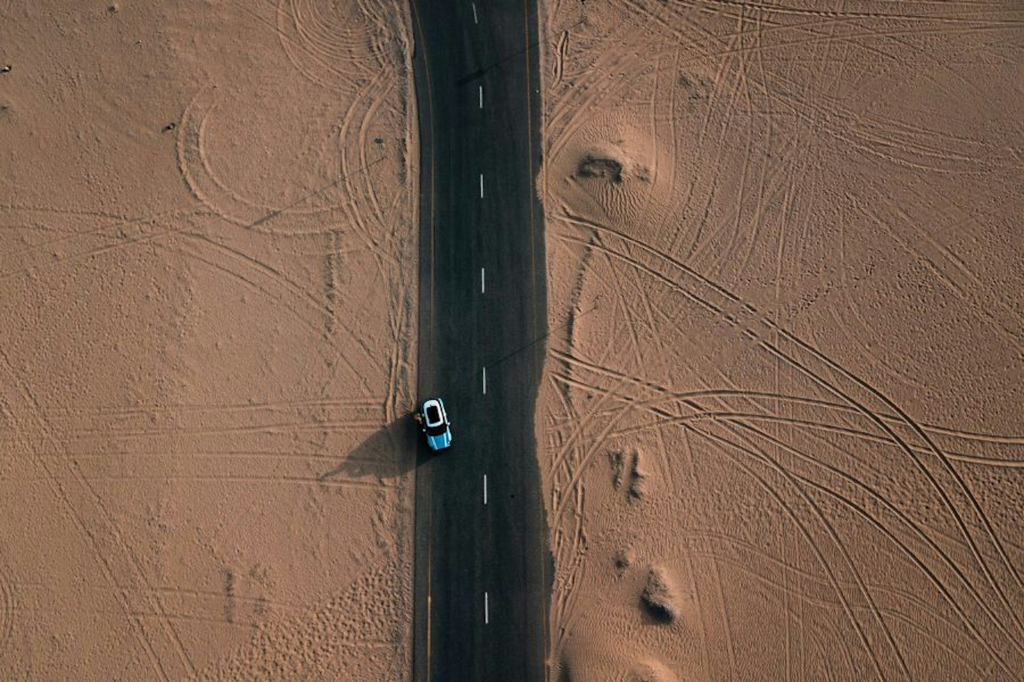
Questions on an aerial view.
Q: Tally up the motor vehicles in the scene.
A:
1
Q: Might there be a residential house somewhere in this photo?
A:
No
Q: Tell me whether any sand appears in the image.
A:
Yes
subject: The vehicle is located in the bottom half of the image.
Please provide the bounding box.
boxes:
[422,398,453,453]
